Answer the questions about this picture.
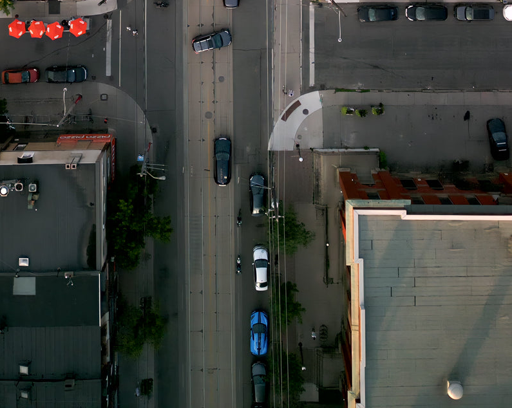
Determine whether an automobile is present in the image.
Yes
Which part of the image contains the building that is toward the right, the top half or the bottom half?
bottom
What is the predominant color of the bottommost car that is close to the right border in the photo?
black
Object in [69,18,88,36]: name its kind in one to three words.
umbrella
